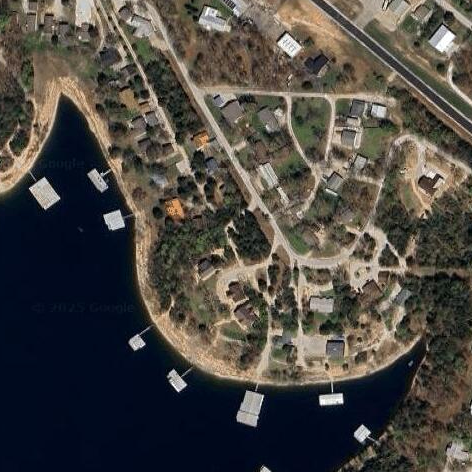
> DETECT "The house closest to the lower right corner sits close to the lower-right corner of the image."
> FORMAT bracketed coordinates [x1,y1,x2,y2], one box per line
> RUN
[447,441,470,460]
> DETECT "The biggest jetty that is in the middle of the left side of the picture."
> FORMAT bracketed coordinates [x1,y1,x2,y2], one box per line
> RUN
[28,171,61,210]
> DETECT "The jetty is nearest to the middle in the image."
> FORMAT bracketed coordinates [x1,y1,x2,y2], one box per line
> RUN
[104,209,135,231]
